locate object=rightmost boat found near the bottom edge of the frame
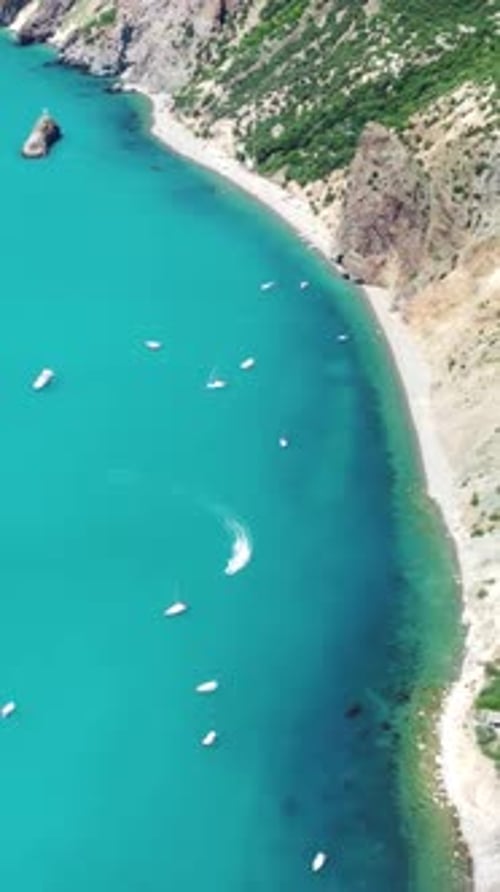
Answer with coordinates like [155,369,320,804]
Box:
[310,850,326,871]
